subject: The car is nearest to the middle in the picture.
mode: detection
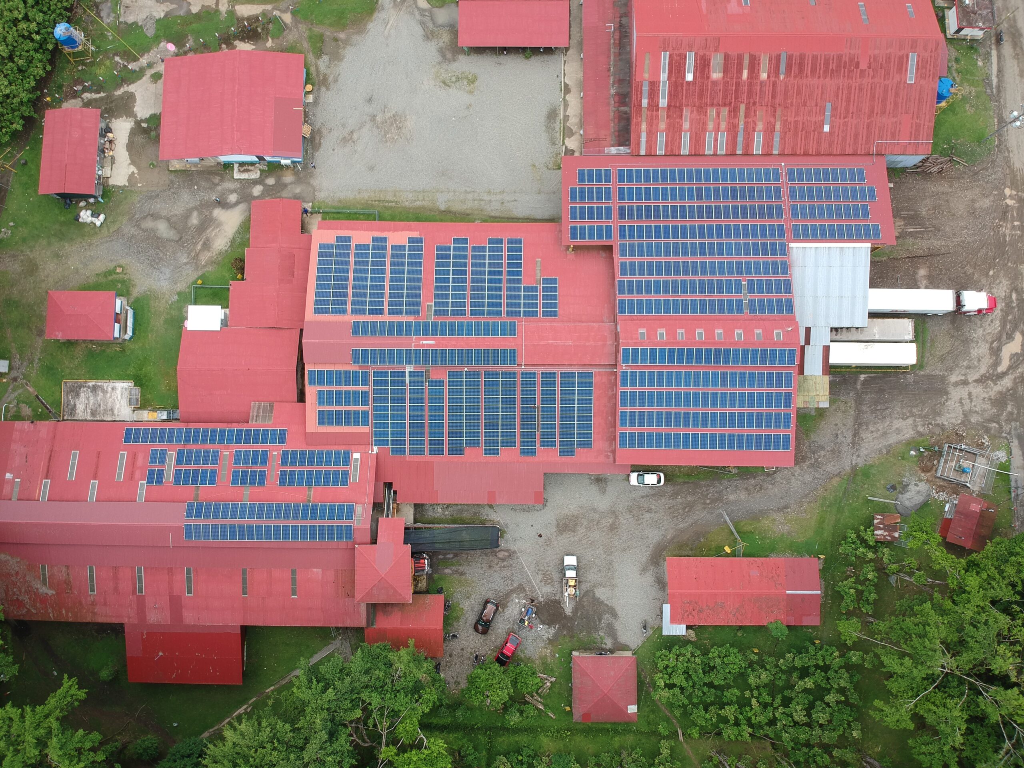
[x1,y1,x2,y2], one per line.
[629,470,665,488]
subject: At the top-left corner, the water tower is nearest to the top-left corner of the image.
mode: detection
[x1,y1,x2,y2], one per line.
[55,24,102,68]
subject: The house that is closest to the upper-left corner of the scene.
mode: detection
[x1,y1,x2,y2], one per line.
[39,108,106,198]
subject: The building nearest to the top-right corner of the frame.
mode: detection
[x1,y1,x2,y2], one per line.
[945,0,994,40]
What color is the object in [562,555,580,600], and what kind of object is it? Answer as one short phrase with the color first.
white vehicle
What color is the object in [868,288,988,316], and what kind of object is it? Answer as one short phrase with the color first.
white truck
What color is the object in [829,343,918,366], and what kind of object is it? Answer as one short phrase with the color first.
white trailer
